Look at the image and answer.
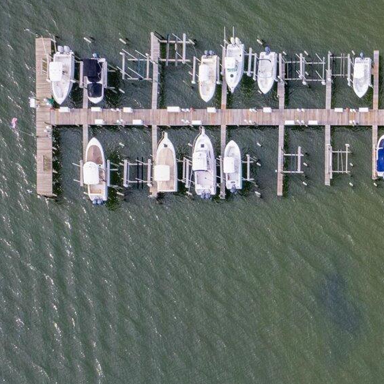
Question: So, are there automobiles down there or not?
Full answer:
No, the picture doesn't show any automobile.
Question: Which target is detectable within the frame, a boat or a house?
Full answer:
The image shows a boat.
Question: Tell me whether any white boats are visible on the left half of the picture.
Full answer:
Yes, the scene does show a white boat on the left half of the picture.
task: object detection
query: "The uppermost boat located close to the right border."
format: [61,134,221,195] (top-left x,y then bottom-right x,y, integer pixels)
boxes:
[353,49,371,97]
